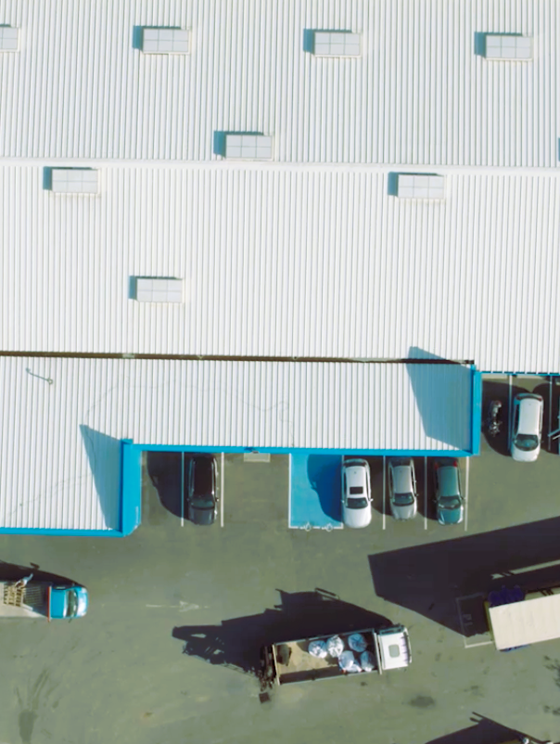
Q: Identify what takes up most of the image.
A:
buildings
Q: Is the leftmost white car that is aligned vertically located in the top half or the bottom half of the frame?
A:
bottom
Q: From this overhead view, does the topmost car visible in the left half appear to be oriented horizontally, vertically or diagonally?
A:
vertically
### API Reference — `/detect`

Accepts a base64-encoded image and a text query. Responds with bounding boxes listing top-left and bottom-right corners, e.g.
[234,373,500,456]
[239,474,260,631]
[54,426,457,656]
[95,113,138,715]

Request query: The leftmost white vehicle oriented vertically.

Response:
[339,456,375,529]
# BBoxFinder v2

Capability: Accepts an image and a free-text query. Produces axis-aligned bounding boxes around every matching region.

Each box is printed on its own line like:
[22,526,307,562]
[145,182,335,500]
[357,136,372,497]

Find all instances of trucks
[0,582,90,624]
[255,619,416,685]
[487,586,560,656]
